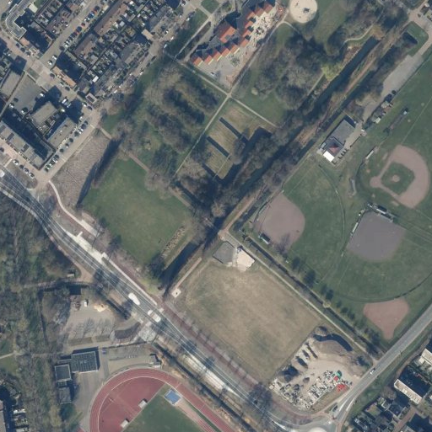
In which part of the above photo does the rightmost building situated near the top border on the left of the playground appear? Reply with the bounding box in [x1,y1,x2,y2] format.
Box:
[191,0,275,66]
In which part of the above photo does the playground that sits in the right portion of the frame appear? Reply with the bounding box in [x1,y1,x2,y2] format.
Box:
[290,0,317,22]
